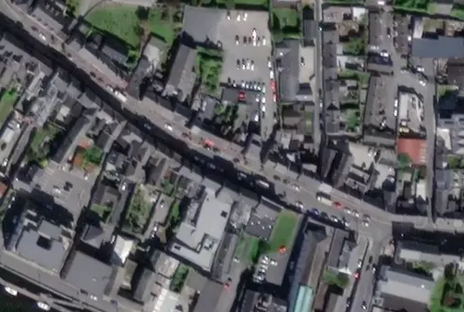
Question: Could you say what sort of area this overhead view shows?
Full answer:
It's a residential area.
